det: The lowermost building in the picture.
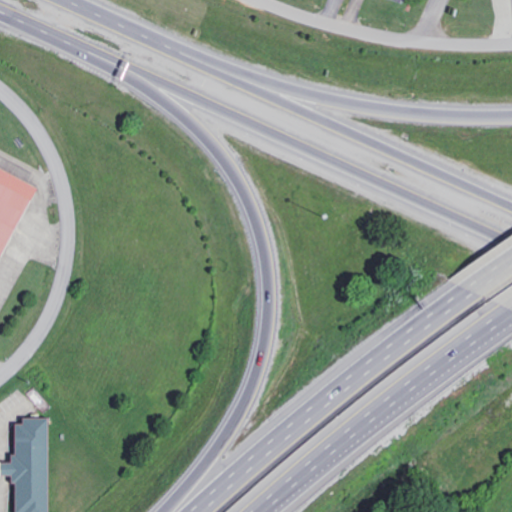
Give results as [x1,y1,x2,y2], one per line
[0,418,48,512]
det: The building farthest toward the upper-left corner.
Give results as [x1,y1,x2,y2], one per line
[0,168,37,258]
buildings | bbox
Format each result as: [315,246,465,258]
[0,168,37,258]
[0,418,48,512]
